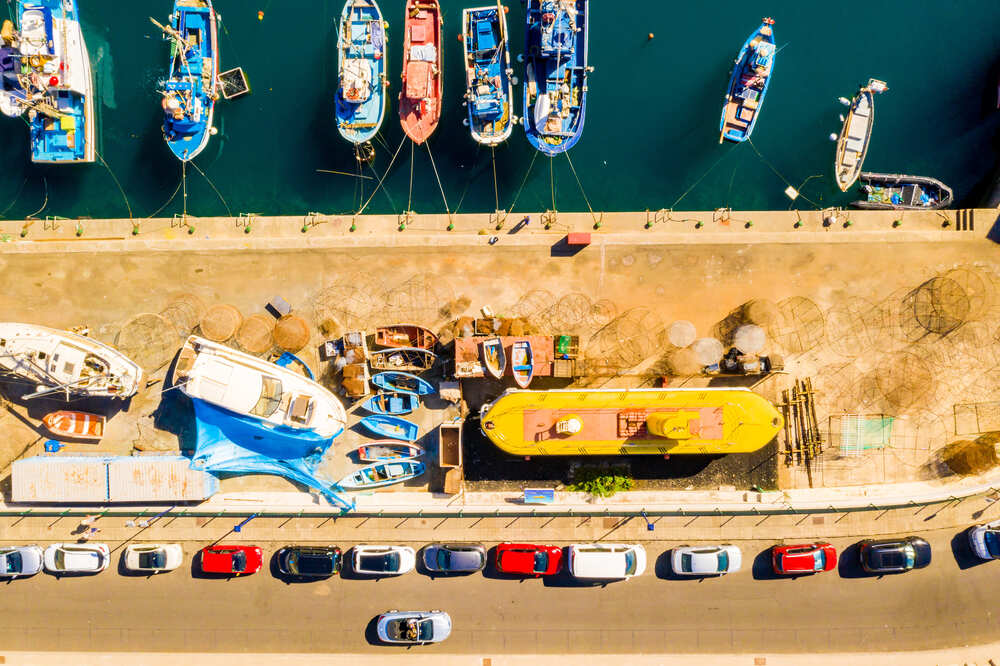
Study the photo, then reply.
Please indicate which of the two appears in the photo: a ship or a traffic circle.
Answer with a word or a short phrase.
ship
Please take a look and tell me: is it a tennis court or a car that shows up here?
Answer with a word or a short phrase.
car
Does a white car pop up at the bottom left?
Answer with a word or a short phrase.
Yes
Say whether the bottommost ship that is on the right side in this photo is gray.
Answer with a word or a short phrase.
No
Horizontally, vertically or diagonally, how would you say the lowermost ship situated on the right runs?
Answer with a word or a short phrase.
horizontally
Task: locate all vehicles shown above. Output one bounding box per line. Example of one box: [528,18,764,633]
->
[963,523,1000,561]
[858,536,931,572]
[352,543,415,577]
[424,542,486,575]
[200,543,265,577]
[0,545,45,579]
[44,543,112,577]
[496,542,562,576]
[277,545,343,581]
[124,542,185,574]
[380,609,451,645]
[569,543,647,581]
[770,540,836,575]
[671,544,740,578]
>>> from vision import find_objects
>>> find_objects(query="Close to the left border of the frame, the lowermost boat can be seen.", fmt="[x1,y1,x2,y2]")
[40,410,108,438]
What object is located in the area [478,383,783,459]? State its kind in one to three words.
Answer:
ship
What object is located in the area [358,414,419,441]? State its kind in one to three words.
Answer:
boat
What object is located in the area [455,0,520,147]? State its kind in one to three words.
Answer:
boat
